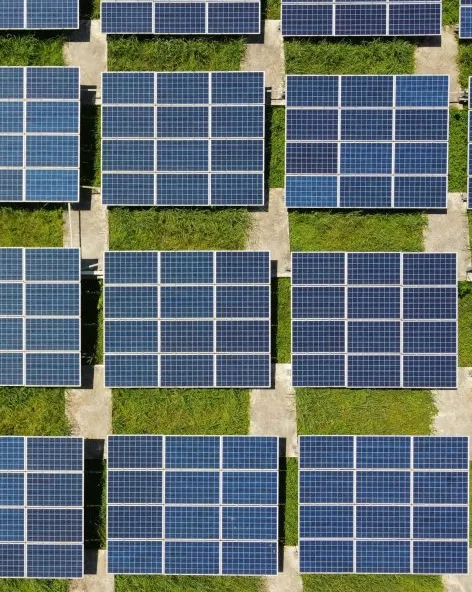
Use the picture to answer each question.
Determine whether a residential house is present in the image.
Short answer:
No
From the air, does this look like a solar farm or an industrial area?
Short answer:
solar farm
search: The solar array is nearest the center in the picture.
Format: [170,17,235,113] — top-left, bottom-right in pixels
[105,251,272,386]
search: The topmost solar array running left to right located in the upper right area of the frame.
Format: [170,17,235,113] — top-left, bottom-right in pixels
[279,0,441,36]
